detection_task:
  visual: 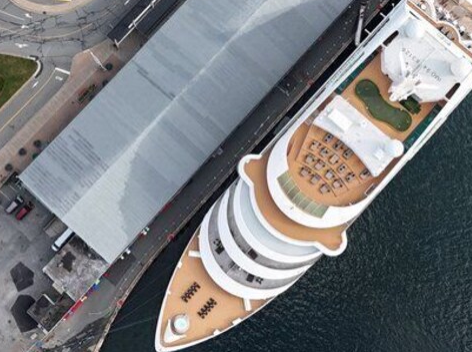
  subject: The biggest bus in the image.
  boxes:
[47,225,77,252]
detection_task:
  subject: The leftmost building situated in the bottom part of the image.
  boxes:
[26,293,75,335]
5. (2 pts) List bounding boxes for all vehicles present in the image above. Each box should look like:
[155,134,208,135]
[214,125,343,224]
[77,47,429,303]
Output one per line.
[4,195,24,216]
[15,200,35,221]
[47,225,77,252]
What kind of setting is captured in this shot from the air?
port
